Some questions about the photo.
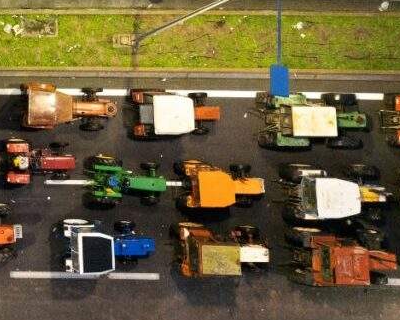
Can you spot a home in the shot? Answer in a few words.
No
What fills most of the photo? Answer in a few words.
paved ground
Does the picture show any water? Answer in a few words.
No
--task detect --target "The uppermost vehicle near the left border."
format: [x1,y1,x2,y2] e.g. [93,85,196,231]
[12,83,109,135]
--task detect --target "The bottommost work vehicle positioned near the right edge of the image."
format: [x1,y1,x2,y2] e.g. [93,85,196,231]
[281,228,395,289]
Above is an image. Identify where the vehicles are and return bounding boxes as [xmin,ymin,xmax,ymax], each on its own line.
[281,228,395,289]
[170,160,264,212]
[81,158,166,209]
[369,95,400,146]
[12,83,109,135]
[250,95,365,146]
[51,218,155,275]
[272,164,383,222]
[123,89,219,138]
[165,223,269,283]
[0,140,76,184]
